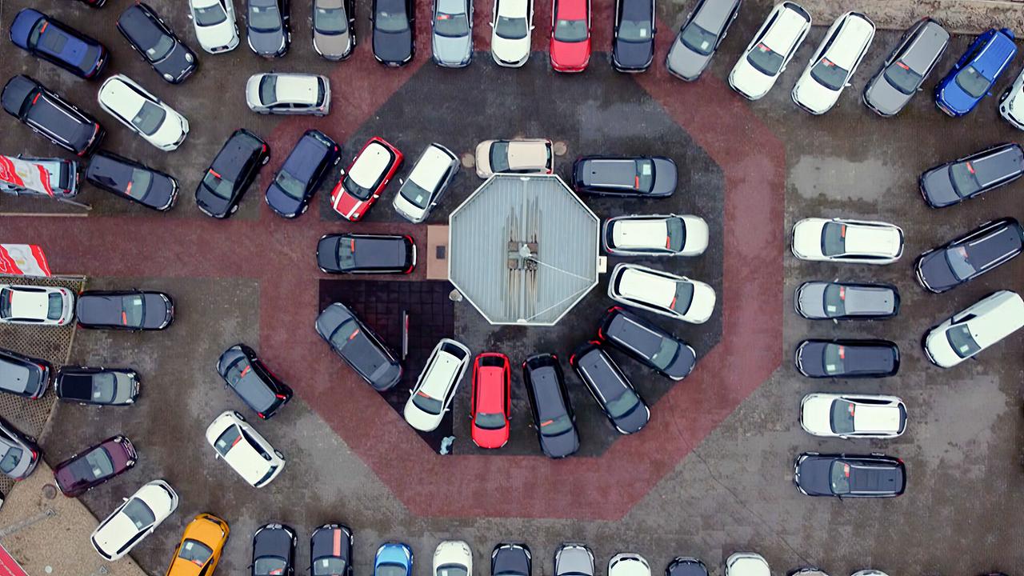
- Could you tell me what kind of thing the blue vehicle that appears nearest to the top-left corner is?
automobile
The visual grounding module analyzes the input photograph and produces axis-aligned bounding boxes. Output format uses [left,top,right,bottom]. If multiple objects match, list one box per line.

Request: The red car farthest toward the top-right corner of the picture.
[547,0,595,73]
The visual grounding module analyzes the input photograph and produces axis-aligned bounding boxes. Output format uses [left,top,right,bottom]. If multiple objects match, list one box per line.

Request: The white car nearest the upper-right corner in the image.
[995,64,1024,125]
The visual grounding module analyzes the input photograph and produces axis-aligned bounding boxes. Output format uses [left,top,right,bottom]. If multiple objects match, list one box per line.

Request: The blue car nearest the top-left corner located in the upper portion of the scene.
[12,12,112,80]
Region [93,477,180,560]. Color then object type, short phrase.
white car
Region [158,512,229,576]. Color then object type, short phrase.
orange car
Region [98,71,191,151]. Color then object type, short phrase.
white car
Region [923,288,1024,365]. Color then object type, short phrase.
white van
